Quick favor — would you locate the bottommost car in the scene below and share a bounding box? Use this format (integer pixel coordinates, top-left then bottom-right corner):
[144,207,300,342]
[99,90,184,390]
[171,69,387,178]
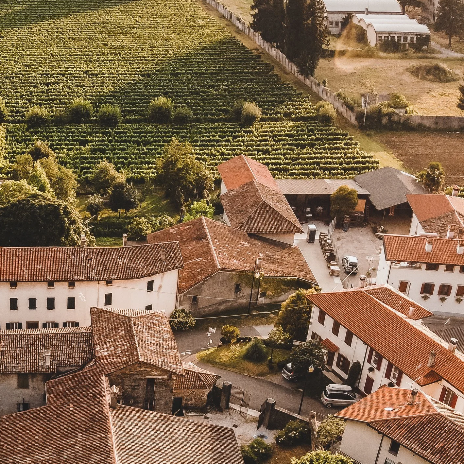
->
[320,384,364,407]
